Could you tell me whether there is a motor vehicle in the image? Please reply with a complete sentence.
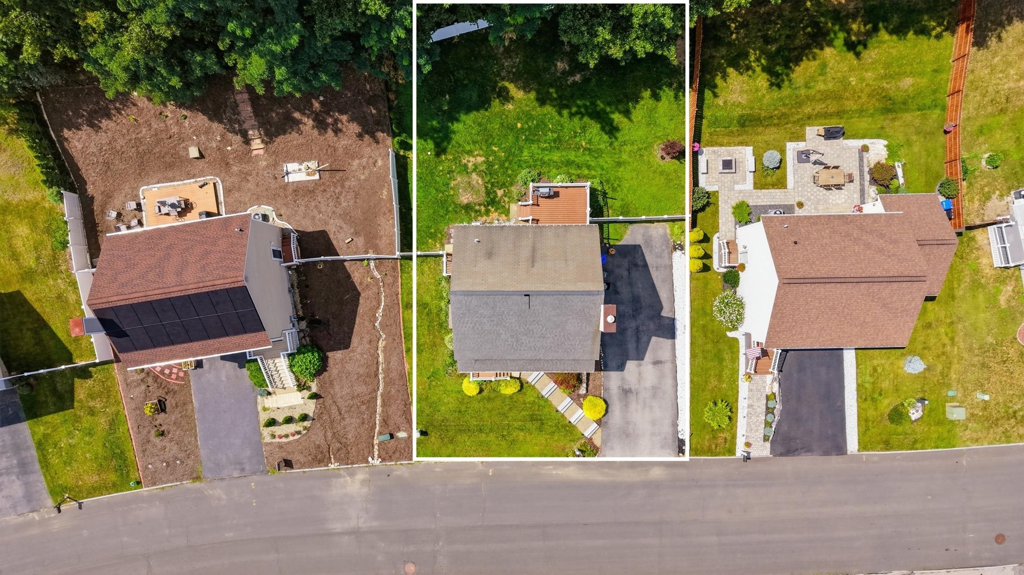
No, this view has no motor vehicle in it.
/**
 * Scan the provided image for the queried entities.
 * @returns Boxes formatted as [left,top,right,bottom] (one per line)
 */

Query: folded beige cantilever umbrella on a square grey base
[797,143,837,163]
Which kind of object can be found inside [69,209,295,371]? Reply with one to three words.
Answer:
house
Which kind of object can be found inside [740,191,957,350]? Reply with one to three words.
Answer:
house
